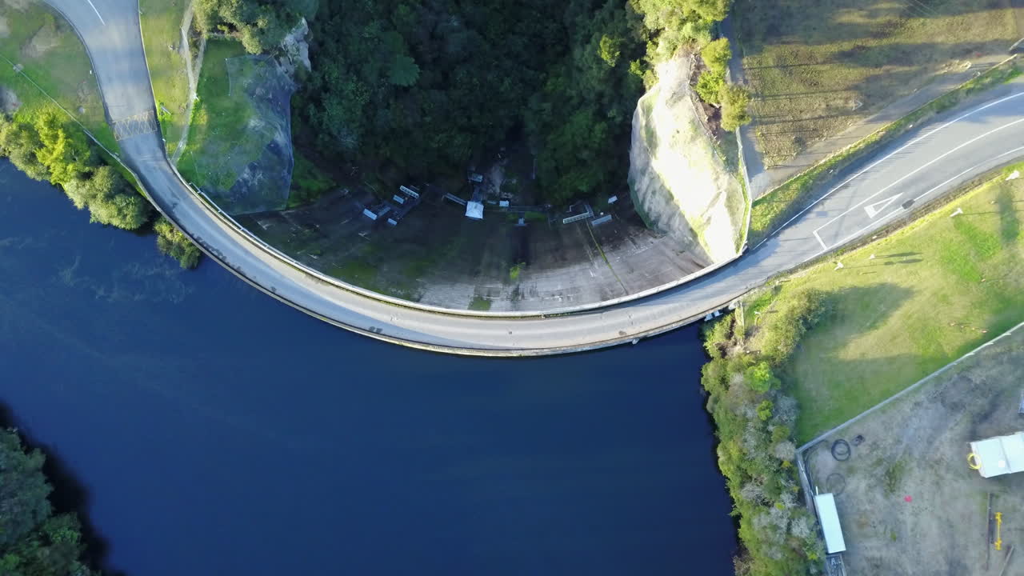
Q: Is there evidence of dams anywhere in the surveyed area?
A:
Yes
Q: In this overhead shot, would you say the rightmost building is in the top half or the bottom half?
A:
bottom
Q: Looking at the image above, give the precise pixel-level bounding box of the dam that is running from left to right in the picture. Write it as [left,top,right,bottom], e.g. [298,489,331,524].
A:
[137,163,756,357]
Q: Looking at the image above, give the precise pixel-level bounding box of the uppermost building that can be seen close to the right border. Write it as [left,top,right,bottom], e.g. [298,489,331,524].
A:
[965,430,1024,477]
